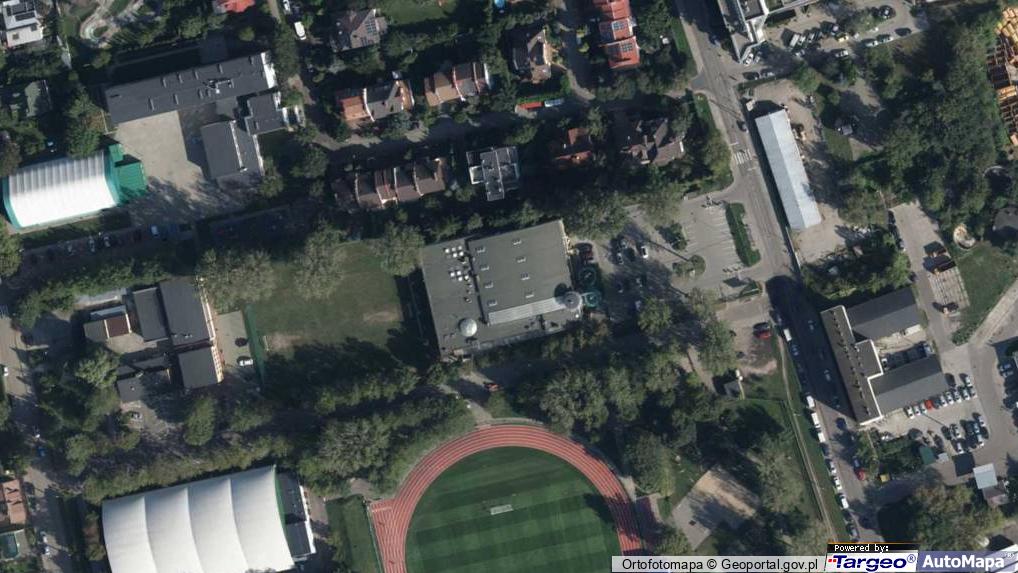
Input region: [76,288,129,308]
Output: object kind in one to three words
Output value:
shed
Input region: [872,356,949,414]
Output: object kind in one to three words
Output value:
building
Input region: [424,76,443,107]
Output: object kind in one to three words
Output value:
house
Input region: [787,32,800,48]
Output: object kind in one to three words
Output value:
vehicle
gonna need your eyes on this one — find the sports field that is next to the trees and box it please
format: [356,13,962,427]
[408,447,620,573]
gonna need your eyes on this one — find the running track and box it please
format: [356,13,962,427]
[377,421,661,573]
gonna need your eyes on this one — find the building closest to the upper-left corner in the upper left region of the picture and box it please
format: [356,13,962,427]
[2,0,46,47]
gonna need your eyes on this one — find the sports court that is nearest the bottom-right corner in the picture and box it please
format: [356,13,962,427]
[673,471,754,550]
